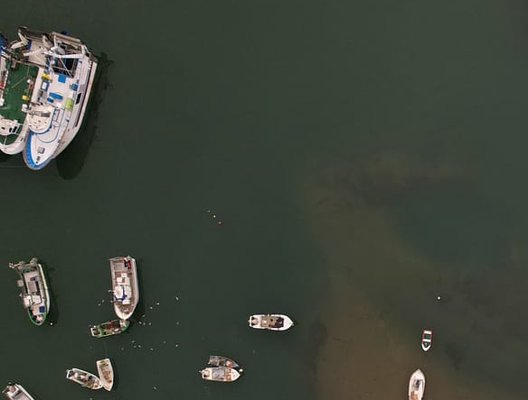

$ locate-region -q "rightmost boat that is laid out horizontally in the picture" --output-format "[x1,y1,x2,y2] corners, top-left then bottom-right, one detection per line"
[243,314,293,331]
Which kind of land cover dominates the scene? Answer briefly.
water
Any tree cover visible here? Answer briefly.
No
